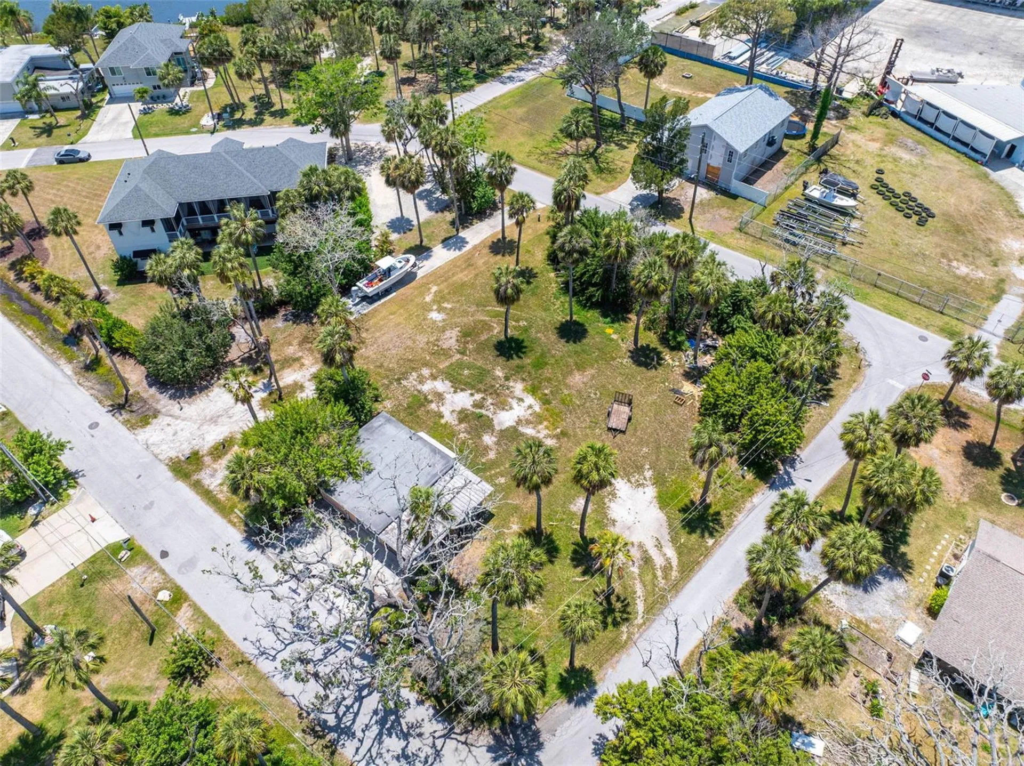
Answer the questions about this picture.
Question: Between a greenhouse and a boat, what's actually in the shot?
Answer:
boat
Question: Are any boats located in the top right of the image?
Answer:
Yes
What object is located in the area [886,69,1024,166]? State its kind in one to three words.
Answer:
building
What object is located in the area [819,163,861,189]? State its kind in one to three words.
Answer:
boat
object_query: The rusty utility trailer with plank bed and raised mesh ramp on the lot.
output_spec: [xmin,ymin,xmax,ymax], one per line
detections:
[605,391,634,441]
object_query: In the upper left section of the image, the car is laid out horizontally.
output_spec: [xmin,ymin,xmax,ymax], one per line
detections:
[49,146,92,162]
